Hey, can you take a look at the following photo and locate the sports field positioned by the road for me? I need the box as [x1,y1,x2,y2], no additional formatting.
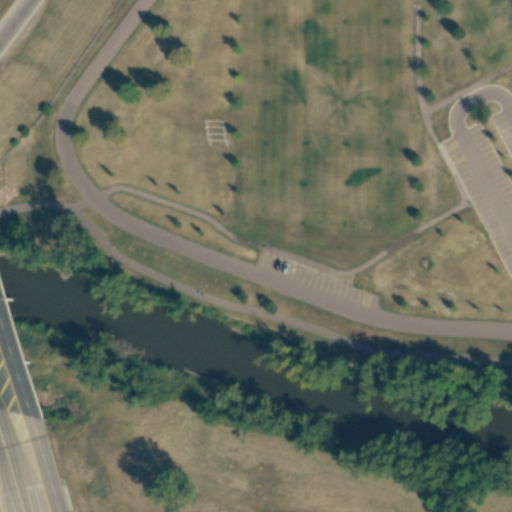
[236,0,412,228]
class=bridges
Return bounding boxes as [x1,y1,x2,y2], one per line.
[0,279,44,420]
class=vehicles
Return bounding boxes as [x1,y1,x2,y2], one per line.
[274,259,280,270]
[284,262,289,273]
